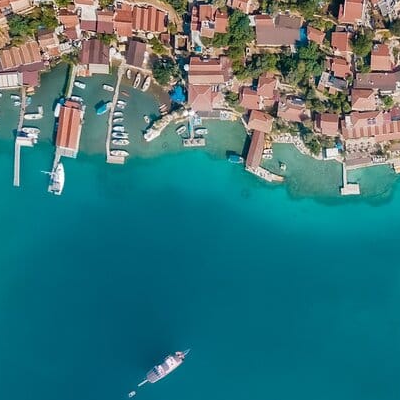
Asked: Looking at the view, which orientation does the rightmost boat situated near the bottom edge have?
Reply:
at an angle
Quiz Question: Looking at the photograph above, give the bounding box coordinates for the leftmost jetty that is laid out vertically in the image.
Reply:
[14,86,34,186]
